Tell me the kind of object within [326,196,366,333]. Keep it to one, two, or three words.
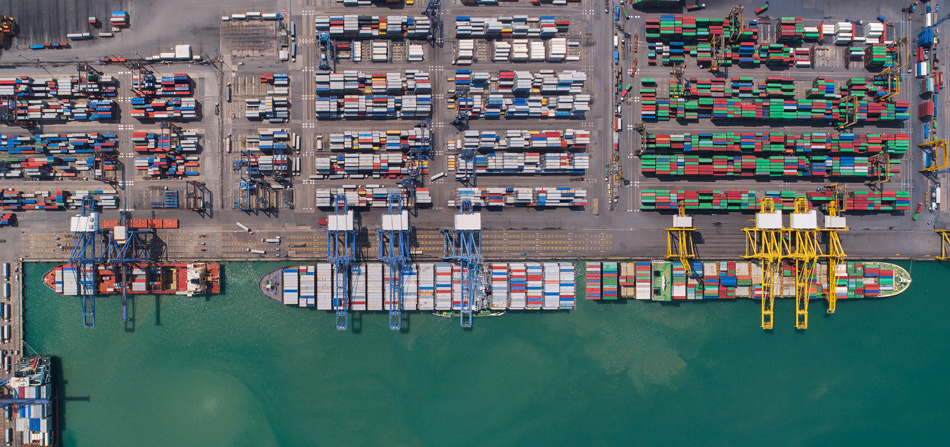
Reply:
container crane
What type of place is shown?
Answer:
port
